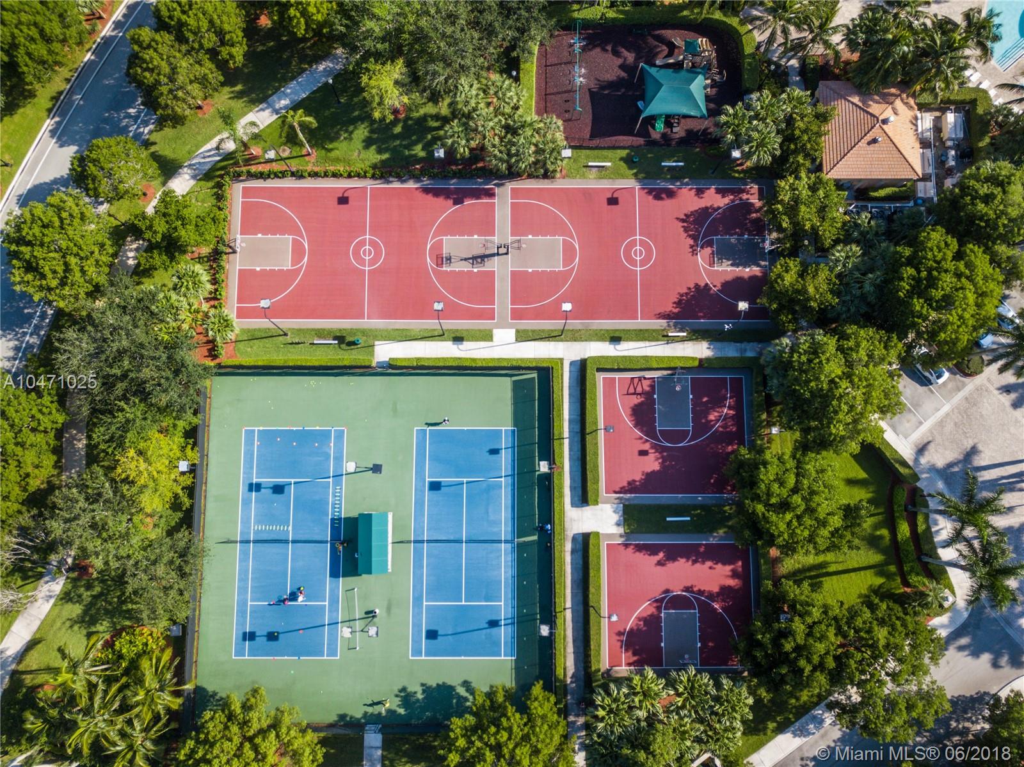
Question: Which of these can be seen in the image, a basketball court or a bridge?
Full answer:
The one in the frame is a basketball court.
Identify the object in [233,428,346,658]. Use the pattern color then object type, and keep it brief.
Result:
blue tennis court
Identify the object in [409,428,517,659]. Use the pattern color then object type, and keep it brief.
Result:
blue tennis court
